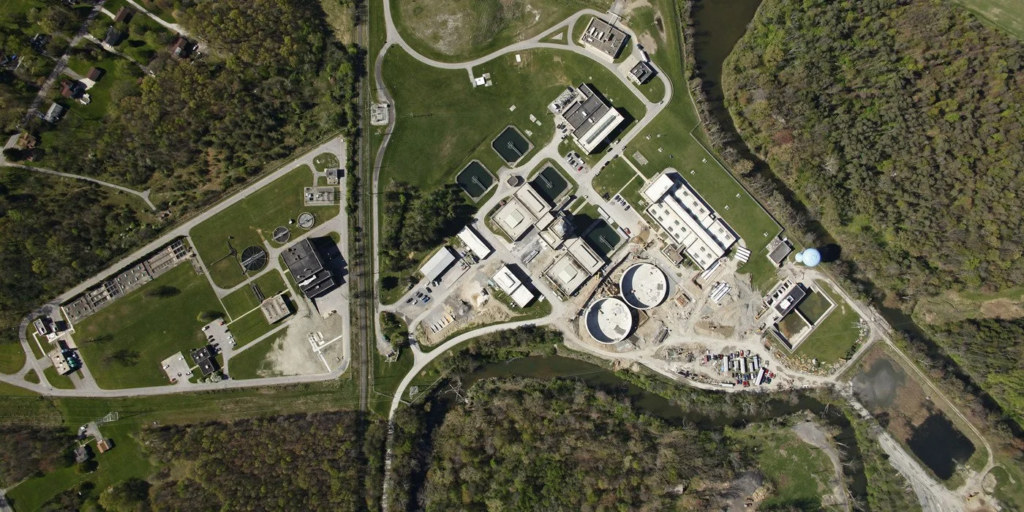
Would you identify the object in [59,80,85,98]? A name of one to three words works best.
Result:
house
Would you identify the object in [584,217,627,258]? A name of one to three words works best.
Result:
water tank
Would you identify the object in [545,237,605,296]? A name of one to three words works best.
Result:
building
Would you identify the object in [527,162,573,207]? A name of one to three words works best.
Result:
water tank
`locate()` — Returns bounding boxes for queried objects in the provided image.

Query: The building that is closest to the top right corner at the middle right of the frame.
[766,238,791,268]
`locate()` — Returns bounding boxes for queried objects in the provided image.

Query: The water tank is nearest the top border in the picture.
[491,125,534,167]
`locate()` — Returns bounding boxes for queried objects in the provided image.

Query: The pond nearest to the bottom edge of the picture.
[909,413,972,478]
